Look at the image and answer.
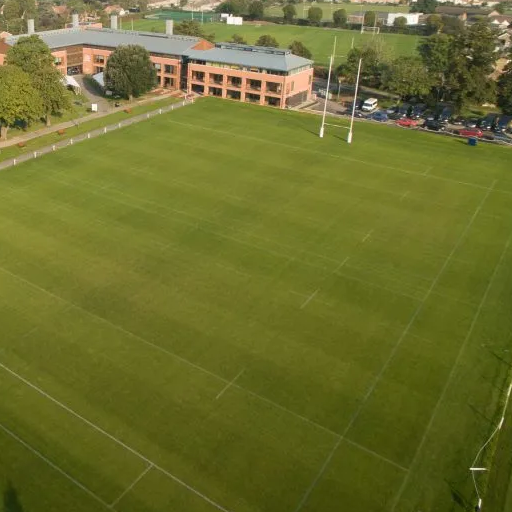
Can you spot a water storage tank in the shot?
No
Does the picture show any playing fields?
Yes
